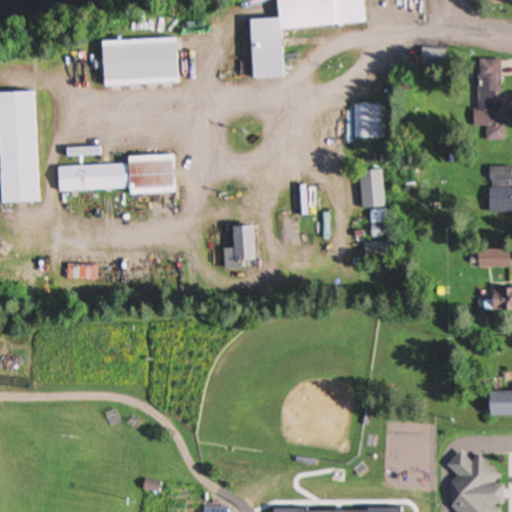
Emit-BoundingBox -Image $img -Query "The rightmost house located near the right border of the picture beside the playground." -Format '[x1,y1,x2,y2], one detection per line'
[444,450,502,512]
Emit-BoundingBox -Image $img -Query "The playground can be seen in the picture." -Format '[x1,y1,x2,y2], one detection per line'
[386,421,436,492]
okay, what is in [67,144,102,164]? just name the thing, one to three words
shed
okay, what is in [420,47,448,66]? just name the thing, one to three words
house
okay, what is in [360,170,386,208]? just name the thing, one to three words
shed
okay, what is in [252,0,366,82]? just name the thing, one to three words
building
